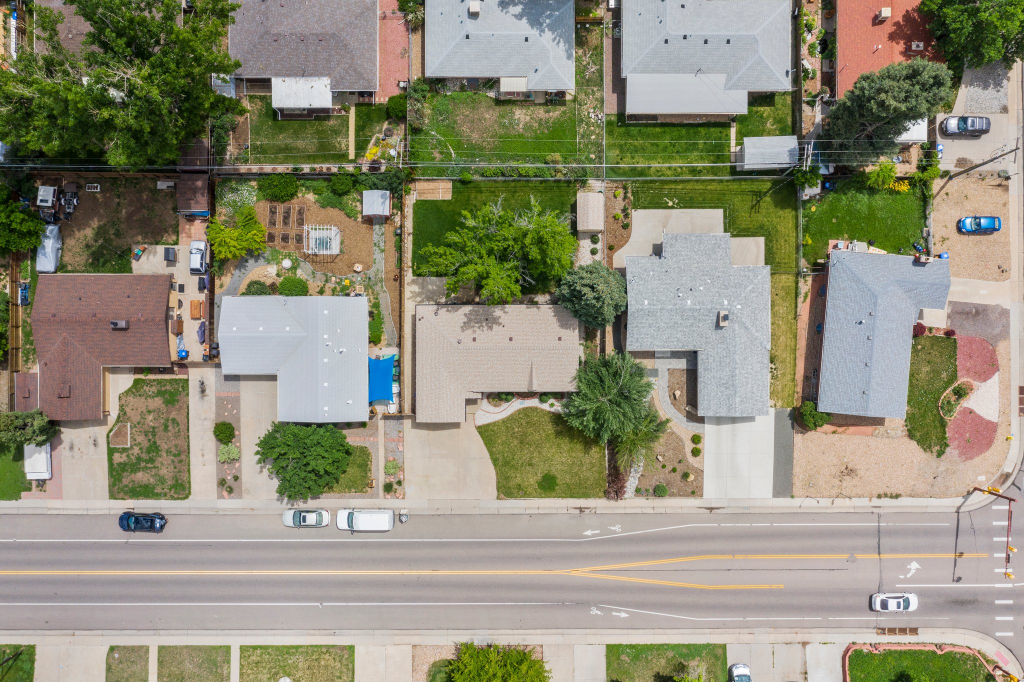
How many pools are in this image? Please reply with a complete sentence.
There are no pools in this view.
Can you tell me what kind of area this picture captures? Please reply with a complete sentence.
The area seen from above is a residential area.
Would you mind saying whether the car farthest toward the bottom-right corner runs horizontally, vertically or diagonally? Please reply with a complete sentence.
The car farthest toward the bottom-right corner is laid out horizontally.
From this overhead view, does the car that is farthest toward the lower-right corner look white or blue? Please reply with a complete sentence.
From above, the car that is farthest toward the lower-right corner appears white.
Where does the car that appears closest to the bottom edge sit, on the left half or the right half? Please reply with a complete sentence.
The car that appears closest to the bottom edge sits on the right side.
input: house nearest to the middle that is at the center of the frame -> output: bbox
[415,304,584,423]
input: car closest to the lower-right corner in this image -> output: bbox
[870,590,916,613]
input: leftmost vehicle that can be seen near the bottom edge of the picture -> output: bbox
[729,660,752,682]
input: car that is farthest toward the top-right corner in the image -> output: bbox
[940,114,993,137]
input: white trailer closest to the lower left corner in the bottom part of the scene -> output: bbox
[22,443,52,486]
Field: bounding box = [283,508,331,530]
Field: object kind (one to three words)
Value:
car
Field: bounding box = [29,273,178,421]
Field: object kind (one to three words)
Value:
house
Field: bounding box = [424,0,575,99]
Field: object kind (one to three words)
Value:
house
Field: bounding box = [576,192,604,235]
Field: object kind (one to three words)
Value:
shed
